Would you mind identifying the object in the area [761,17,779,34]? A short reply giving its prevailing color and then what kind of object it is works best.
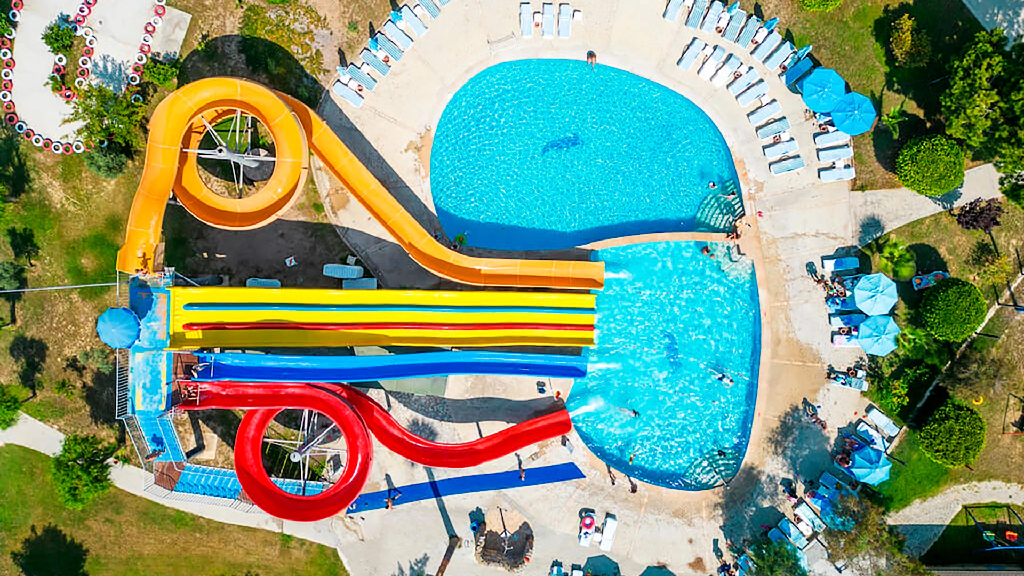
blue umbrella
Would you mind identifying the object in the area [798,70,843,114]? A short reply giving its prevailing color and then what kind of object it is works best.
blue umbrella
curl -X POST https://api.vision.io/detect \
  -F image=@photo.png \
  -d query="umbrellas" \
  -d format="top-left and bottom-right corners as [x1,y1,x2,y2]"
[761,17,779,34]
[827,94,871,137]
[101,306,149,348]
[722,1,740,20]
[853,314,895,354]
[335,64,351,83]
[850,272,894,316]
[790,45,812,63]
[369,37,383,53]
[798,70,843,114]
[392,9,407,28]
[837,438,887,487]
